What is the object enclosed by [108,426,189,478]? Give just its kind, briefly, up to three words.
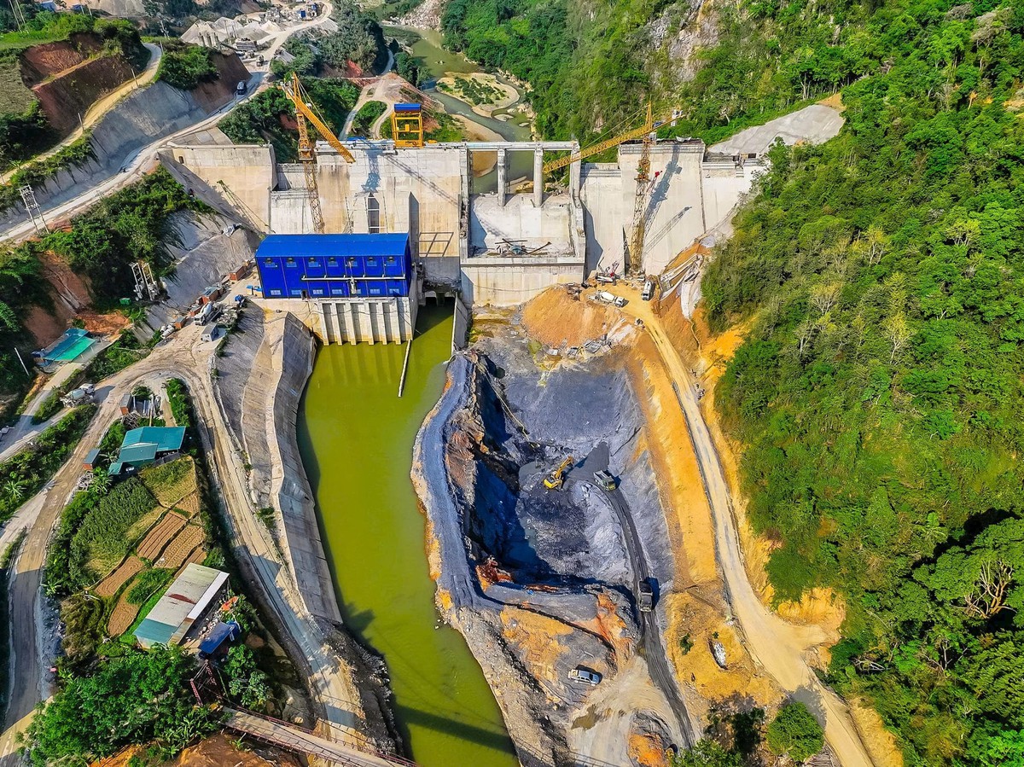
house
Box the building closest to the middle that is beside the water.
[253,234,427,346]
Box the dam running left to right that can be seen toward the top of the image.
[151,134,783,320]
